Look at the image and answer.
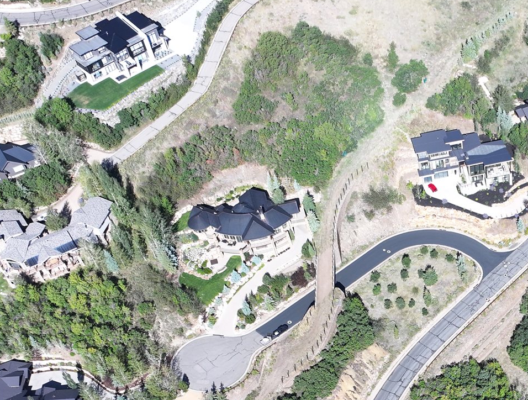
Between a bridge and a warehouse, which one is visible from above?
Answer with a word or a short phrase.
bridge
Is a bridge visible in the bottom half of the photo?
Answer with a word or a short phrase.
Yes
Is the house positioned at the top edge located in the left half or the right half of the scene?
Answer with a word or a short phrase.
left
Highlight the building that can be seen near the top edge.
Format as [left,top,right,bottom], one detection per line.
[69,11,167,84]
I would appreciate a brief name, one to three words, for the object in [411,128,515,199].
house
